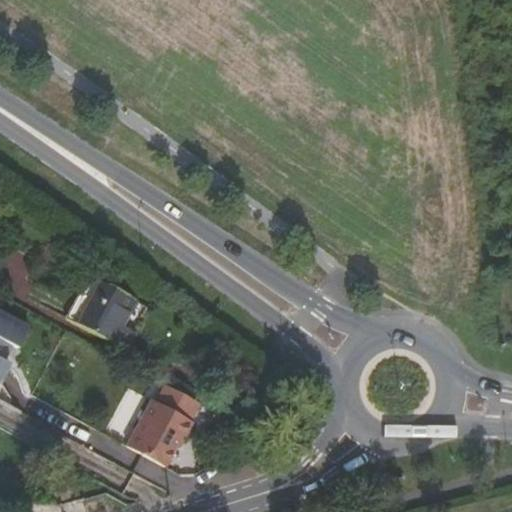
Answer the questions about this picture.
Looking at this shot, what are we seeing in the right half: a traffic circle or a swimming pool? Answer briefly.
traffic circle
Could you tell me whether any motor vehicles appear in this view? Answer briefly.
Yes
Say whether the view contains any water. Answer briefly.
No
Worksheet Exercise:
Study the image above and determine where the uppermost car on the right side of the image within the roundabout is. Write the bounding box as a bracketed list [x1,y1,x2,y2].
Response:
[393,332,415,347]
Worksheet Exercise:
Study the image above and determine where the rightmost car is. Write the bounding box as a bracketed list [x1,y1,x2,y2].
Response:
[479,379,501,392]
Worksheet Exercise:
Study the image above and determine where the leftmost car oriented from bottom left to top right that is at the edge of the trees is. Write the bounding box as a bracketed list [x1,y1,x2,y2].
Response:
[196,468,216,484]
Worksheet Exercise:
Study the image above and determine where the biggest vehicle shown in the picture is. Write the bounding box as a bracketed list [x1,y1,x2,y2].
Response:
[384,424,459,440]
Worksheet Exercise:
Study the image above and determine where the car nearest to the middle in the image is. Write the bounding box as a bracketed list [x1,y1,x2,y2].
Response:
[222,240,243,256]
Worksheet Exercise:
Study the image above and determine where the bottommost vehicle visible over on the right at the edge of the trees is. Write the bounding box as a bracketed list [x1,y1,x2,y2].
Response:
[302,478,324,492]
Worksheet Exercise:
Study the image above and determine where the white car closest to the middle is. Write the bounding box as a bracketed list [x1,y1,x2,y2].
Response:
[163,202,183,218]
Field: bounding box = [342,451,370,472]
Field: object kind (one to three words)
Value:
vehicle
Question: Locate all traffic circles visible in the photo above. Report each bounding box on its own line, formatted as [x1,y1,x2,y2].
[322,308,484,462]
